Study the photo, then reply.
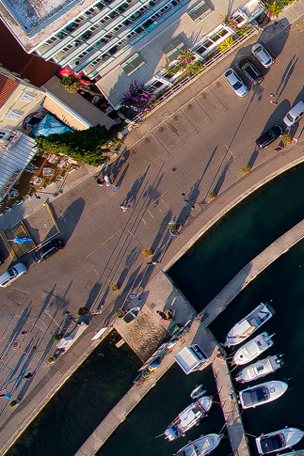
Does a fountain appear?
No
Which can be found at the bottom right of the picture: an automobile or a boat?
boat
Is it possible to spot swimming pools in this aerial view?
No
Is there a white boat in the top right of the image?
No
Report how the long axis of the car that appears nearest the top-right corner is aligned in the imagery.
at an angle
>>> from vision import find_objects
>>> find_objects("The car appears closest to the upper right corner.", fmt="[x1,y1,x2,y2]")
[249,40,277,72]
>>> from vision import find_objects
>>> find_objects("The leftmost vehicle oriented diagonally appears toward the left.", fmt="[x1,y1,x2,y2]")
[0,260,33,289]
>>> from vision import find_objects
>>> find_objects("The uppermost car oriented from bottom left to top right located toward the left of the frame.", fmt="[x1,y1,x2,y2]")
[30,237,68,265]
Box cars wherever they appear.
[239,56,266,89]
[30,237,68,265]
[0,260,33,289]
[281,100,304,130]
[249,40,277,72]
[255,124,288,150]
[223,68,250,99]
